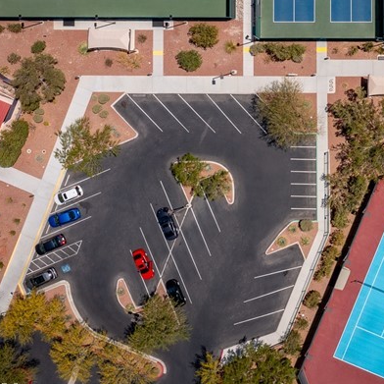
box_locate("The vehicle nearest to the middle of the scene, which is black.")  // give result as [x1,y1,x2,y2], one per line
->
[156,206,179,240]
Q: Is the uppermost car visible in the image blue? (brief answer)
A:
No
